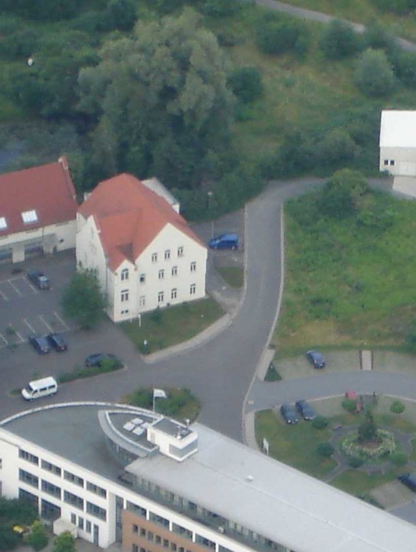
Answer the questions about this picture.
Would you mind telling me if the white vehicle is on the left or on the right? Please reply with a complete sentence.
The white vehicle sits on the left side.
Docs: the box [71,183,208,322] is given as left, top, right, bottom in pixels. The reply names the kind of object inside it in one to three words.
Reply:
house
